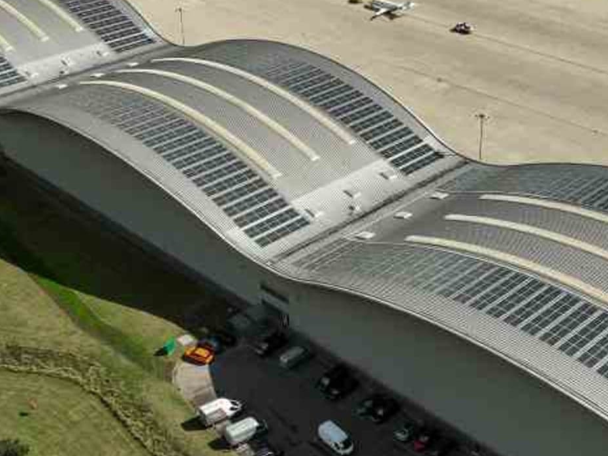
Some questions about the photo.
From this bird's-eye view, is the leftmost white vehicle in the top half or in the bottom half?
bottom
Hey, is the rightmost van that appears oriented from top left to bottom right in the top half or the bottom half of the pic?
bottom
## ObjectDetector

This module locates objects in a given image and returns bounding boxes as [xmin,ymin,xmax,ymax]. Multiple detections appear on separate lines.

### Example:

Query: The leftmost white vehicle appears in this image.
[201,399,240,423]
